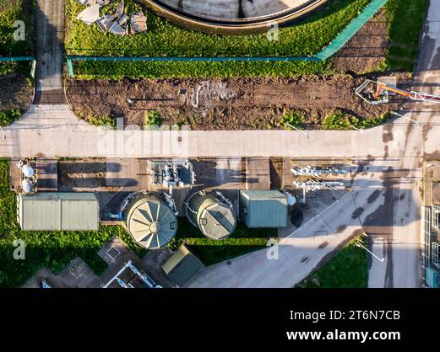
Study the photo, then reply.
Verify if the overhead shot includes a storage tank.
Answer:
Yes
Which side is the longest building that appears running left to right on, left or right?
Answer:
left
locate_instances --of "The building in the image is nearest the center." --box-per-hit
[239,192,287,228]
